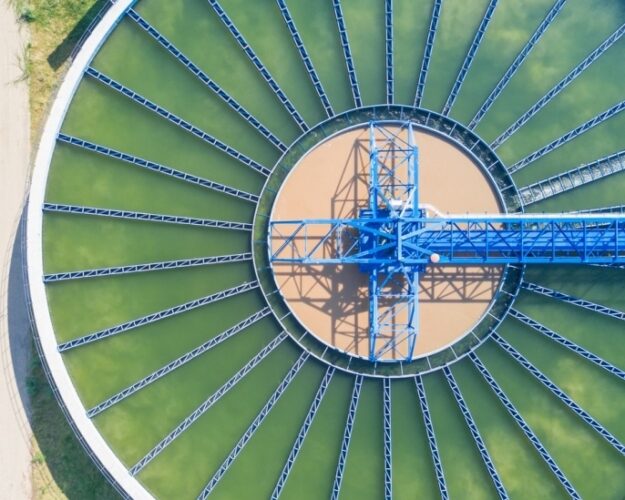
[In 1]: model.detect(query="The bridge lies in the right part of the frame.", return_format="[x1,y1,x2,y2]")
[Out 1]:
[267,118,625,364]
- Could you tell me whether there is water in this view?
Yes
